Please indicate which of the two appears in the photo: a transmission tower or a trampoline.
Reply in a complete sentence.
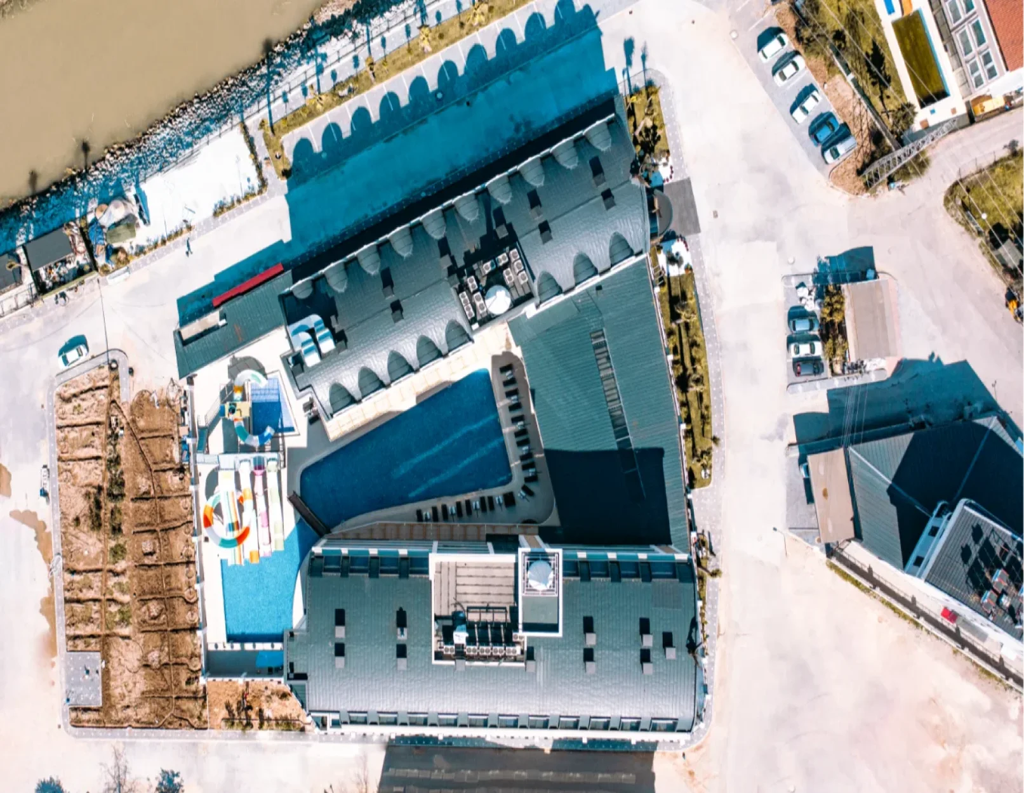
Visible in the photo is a transmission tower.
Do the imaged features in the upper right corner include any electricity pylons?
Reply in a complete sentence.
Yes, in the upper right corner there is an electricity pylon.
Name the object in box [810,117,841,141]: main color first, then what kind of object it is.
blue car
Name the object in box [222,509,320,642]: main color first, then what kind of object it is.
blue swimming pool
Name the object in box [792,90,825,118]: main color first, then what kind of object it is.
white car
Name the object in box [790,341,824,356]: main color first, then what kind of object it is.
white car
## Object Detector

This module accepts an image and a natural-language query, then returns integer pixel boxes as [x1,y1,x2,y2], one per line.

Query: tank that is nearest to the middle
[485,287,513,317]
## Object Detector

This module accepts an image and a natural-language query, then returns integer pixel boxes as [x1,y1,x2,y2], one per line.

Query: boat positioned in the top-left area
[131,187,148,224]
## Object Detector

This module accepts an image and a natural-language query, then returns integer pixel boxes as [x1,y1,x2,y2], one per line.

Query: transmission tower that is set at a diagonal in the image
[862,118,968,191]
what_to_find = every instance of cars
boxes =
[54,342,89,367]
[790,341,824,356]
[759,33,791,59]
[794,361,826,375]
[801,452,814,484]
[810,117,841,141]
[825,133,860,161]
[792,90,825,118]
[789,318,821,332]
[775,56,805,81]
